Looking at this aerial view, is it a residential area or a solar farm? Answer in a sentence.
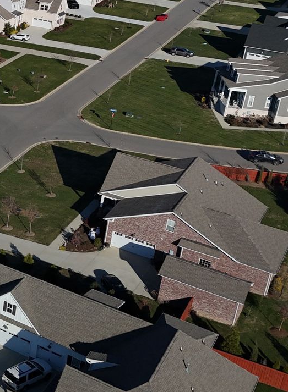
It's a residential area.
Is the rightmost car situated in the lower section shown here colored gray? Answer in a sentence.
No, from above the rightmost car situated in the lower section looks black.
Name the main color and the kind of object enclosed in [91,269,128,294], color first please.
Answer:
black car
